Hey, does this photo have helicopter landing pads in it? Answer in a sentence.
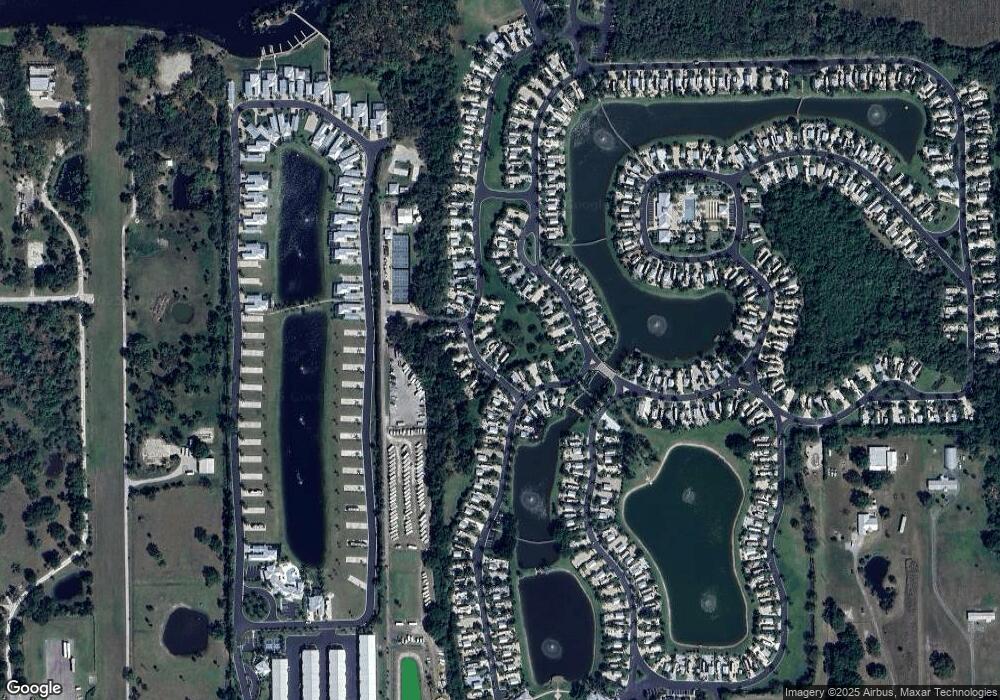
No, there's no helicopter landing pad here.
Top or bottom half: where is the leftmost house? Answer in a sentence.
Seen from above, the leftmost house lies in the top half of the view.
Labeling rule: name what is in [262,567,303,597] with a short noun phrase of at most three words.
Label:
building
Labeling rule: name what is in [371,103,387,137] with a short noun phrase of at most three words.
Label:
house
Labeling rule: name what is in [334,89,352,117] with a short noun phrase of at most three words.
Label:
house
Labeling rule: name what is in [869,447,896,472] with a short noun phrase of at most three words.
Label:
barn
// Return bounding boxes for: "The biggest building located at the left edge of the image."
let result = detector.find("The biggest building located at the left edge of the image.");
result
[29,64,54,92]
